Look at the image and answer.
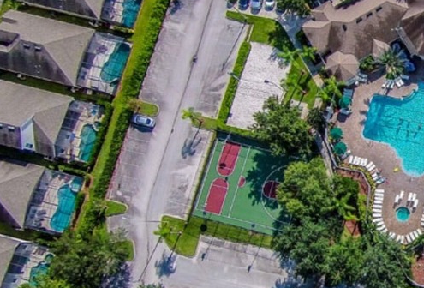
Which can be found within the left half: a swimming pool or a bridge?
swimming pool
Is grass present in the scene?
Yes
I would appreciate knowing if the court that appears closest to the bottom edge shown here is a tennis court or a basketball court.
basketball court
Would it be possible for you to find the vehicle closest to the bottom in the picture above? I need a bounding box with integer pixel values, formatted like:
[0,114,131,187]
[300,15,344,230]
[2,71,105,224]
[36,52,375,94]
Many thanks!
[133,115,154,128]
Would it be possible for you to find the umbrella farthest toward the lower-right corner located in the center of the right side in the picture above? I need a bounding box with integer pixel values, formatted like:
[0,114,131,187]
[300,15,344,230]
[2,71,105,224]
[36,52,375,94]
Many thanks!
[334,141,348,155]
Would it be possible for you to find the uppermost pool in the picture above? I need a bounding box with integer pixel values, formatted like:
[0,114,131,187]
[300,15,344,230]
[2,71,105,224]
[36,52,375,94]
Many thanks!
[121,0,146,27]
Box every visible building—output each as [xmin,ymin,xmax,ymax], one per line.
[303,0,424,60]
[27,0,113,21]
[0,80,79,156]
[0,238,27,288]
[0,157,51,228]
[0,11,101,87]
